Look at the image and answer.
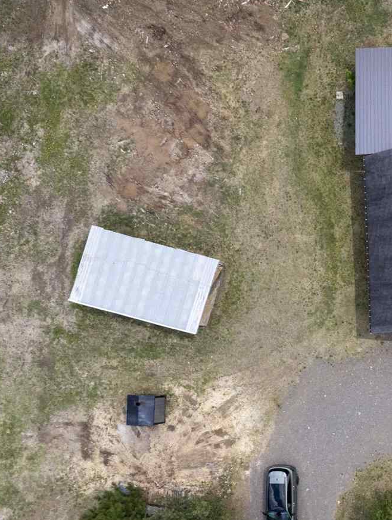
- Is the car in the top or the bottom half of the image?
bottom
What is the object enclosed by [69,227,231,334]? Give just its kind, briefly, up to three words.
shed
